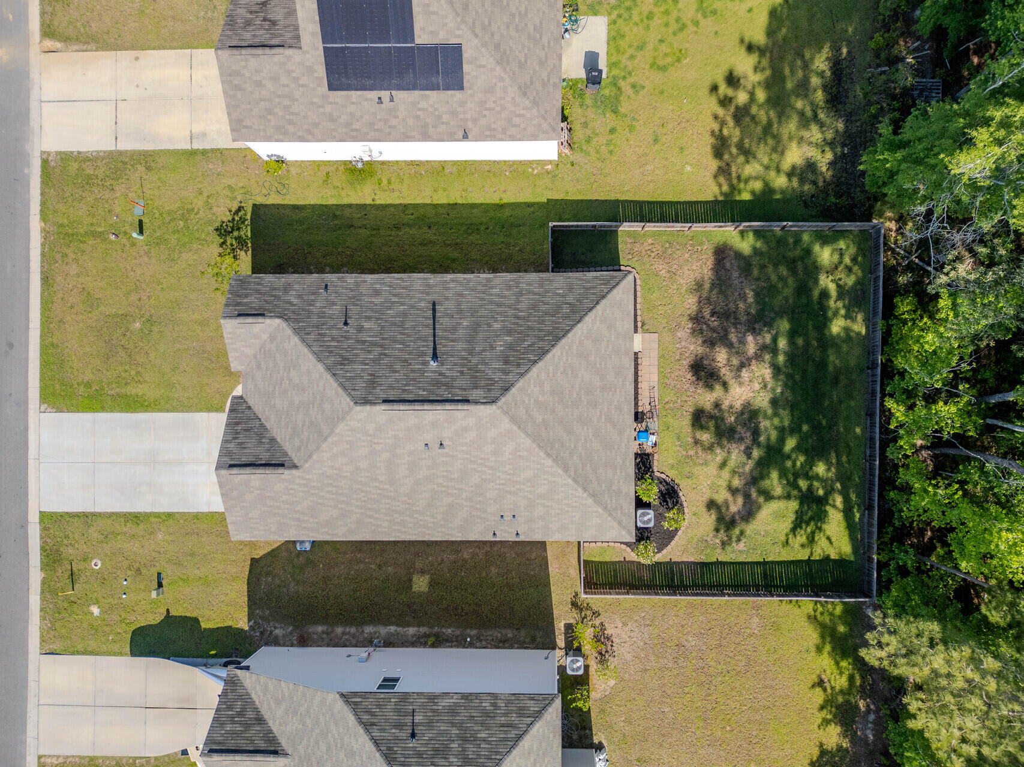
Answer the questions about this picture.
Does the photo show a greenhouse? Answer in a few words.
No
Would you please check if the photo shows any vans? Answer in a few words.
No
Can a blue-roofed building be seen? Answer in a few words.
No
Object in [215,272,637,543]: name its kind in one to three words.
house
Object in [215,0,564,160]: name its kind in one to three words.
house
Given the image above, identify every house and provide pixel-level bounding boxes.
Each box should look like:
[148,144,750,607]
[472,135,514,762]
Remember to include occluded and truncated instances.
[215,272,637,543]
[215,0,564,160]
[200,649,563,767]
